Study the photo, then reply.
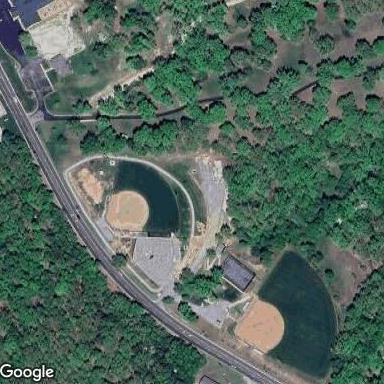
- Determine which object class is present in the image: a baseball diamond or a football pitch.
baseball diamond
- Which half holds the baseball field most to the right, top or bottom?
bottom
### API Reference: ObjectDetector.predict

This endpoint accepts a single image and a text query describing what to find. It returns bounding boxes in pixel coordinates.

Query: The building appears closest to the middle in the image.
[220,257,256,291]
